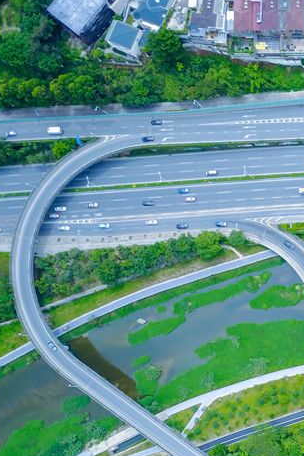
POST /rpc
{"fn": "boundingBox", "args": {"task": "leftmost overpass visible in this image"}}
[8,139,213,456]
